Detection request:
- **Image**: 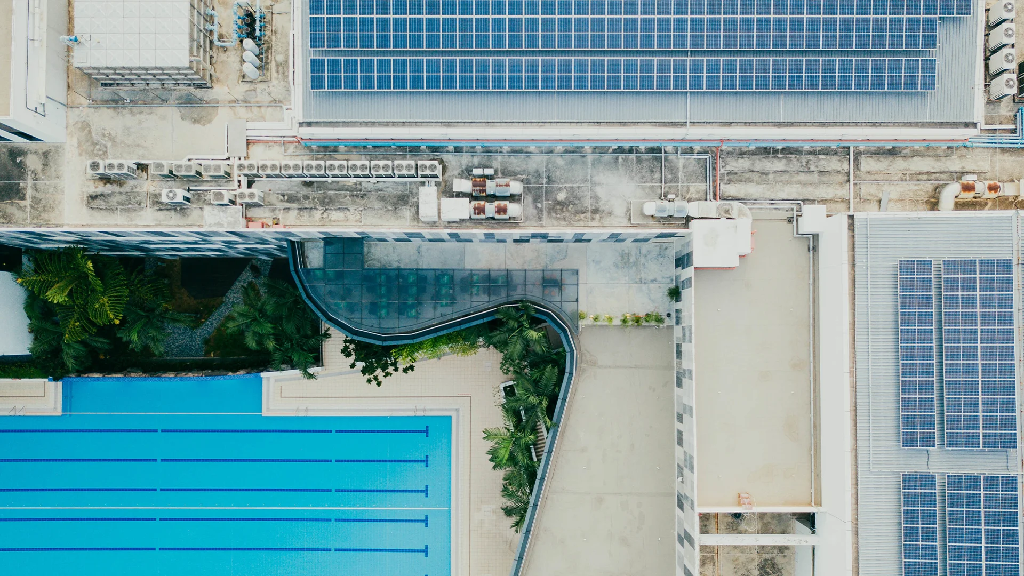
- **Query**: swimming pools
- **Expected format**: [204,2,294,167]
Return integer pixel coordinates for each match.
[0,373,452,576]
